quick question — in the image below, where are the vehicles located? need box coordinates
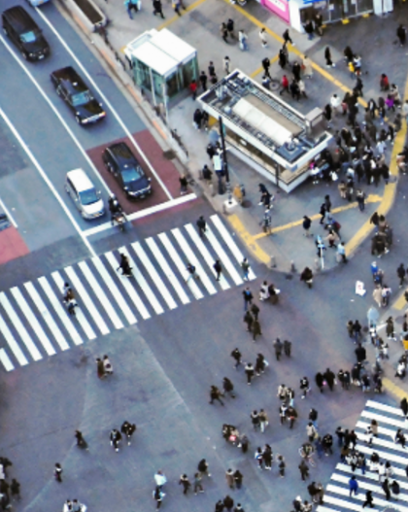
[60,158,106,216]
[49,60,106,124]
[111,207,124,228]
[98,132,154,198]
[0,0,52,61]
